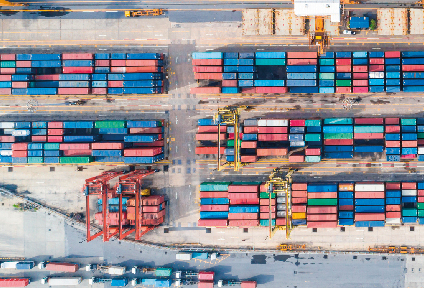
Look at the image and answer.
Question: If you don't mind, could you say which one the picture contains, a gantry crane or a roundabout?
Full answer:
There is a gantry crane in the scene.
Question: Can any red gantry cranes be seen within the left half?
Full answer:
Yes, a red gantry crane can be seen within the left half.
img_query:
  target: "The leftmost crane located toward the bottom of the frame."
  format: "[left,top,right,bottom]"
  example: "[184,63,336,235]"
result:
[82,167,130,243]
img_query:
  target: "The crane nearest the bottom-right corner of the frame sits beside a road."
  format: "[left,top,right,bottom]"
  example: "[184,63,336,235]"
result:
[265,169,300,243]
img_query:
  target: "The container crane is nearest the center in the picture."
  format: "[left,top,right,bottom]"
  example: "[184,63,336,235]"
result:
[216,103,254,174]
